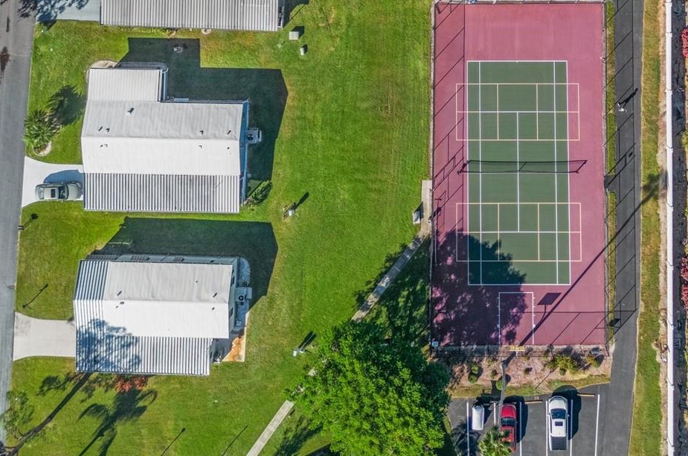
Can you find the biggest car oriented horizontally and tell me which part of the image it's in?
left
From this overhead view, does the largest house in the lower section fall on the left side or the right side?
left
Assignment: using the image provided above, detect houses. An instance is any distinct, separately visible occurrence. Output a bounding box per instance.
[81,63,252,213]
[73,254,238,376]
[100,0,280,31]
